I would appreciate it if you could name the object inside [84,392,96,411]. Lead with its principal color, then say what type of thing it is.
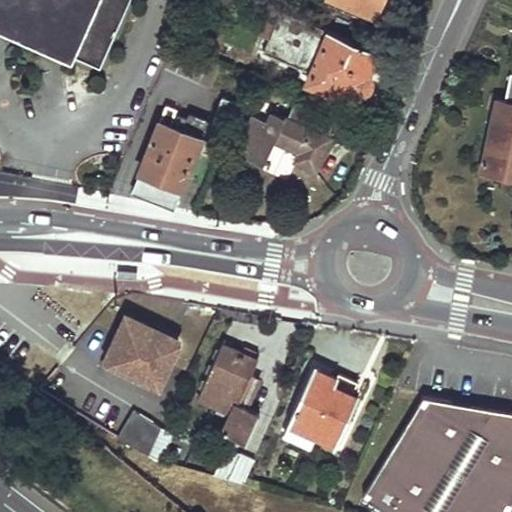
gray vehicle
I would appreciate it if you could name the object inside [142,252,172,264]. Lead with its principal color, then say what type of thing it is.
white vehicle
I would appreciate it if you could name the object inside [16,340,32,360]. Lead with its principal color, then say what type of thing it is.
gray car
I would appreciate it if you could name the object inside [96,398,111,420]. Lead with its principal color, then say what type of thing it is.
white car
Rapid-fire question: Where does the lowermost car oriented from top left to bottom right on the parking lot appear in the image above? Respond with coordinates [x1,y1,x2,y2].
[56,322,76,340]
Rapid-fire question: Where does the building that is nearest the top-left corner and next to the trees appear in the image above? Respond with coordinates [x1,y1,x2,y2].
[0,0,130,69]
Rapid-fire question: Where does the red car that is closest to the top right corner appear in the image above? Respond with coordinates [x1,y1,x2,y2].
[324,154,336,173]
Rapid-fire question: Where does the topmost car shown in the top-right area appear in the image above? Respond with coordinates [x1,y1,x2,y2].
[406,111,420,132]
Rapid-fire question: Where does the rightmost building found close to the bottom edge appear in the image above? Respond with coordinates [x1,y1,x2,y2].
[357,402,512,512]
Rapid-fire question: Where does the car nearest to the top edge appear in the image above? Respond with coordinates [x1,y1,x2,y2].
[146,56,160,77]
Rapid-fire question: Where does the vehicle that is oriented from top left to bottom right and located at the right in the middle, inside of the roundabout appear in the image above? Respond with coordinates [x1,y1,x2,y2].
[376,220,398,240]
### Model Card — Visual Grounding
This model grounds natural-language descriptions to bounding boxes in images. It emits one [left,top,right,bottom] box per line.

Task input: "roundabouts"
[284,0,471,326]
